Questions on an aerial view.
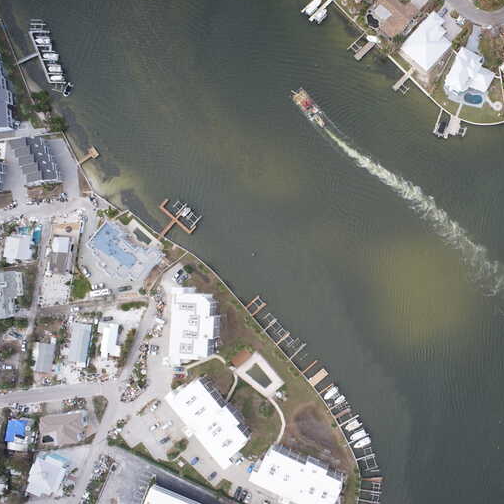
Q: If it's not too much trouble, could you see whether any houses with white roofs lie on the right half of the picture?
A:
Yes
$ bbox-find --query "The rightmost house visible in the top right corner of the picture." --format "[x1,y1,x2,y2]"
[446,47,495,92]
